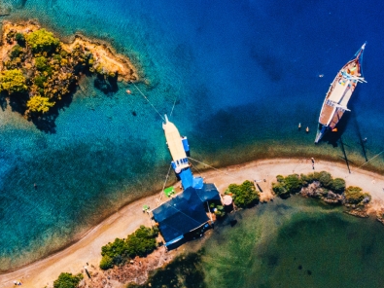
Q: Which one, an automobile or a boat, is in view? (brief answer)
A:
boat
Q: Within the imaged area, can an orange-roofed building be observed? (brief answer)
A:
No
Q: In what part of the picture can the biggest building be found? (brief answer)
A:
bottom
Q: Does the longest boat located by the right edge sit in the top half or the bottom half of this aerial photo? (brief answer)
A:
top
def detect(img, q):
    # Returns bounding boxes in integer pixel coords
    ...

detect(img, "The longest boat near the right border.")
[314,42,375,143]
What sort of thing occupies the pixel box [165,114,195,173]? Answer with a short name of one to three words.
boat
